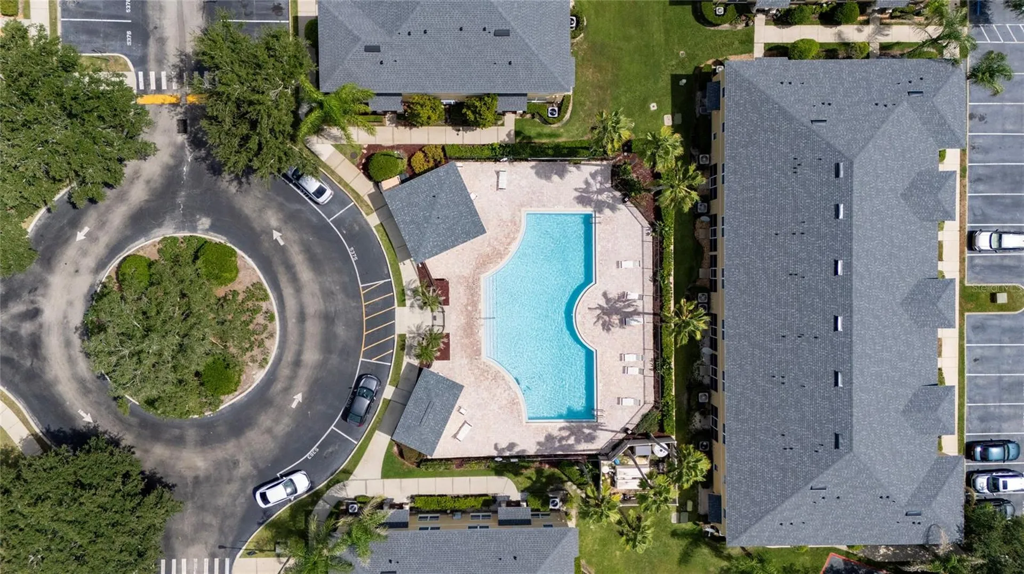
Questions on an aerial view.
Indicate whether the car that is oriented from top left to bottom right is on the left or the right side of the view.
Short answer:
left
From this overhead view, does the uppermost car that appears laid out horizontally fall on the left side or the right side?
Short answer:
right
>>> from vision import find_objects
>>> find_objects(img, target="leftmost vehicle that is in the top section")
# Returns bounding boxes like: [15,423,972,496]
[284,165,336,208]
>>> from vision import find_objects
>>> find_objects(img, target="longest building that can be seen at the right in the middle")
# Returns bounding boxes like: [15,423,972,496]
[696,59,967,547]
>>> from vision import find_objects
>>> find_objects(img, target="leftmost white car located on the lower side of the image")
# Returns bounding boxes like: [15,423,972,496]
[254,469,312,508]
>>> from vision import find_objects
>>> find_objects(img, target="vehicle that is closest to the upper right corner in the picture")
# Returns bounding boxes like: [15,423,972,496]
[971,228,1024,254]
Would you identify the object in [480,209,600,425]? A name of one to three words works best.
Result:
swimming pool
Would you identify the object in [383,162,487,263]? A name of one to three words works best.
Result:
building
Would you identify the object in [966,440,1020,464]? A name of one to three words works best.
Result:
car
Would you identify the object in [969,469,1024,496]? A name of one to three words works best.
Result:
car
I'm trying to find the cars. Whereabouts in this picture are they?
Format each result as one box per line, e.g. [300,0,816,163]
[254,469,312,508]
[966,497,1019,524]
[971,228,1024,254]
[284,165,336,208]
[969,469,1024,496]
[966,440,1020,464]
[344,372,381,428]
